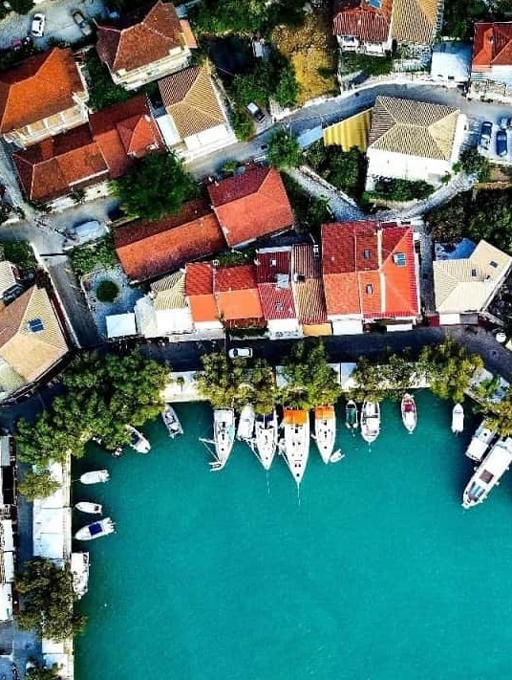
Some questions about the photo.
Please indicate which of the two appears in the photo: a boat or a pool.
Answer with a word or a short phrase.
boat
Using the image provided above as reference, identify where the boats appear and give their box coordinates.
[73,551,90,599]
[245,409,279,477]
[345,393,358,432]
[236,406,254,441]
[75,501,104,515]
[275,407,311,486]
[465,421,495,459]
[72,469,112,485]
[196,402,234,470]
[163,407,183,438]
[277,435,284,451]
[330,450,343,463]
[74,517,117,546]
[401,393,417,436]
[462,435,512,512]
[206,462,218,470]
[360,401,381,446]
[122,422,150,452]
[312,405,337,464]
[451,399,465,436]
